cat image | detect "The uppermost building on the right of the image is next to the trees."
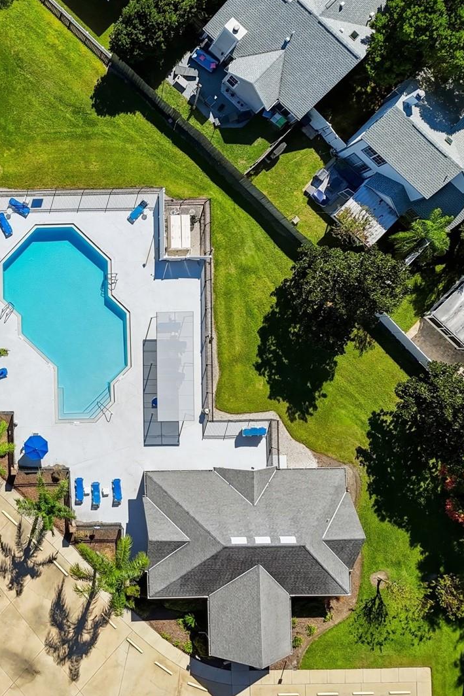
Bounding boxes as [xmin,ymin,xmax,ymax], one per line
[197,0,406,124]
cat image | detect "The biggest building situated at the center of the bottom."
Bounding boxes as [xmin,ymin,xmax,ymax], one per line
[143,465,366,668]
